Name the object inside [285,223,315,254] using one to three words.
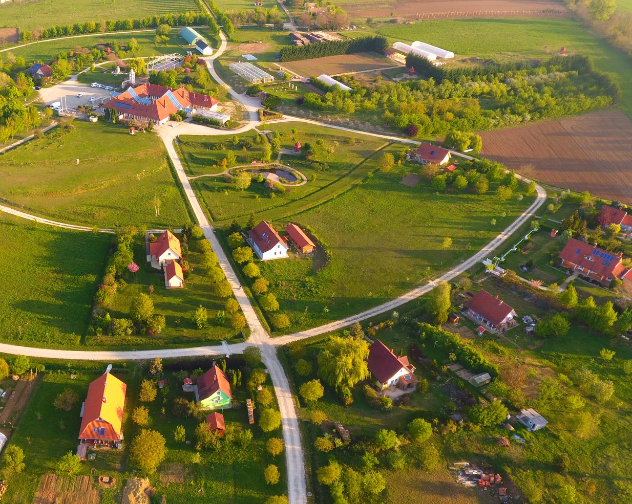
barn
